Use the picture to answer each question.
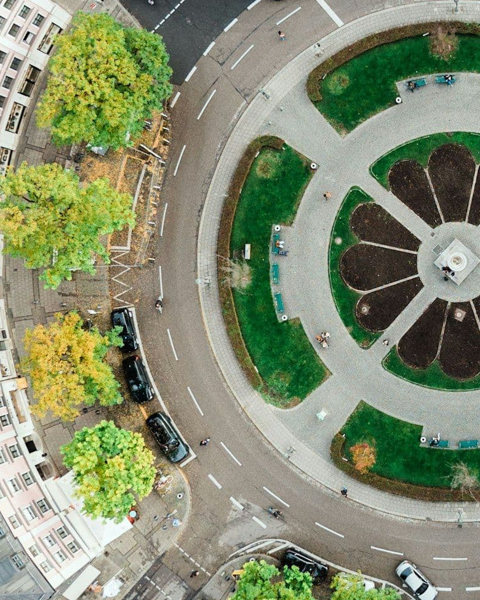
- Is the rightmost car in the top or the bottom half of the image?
bottom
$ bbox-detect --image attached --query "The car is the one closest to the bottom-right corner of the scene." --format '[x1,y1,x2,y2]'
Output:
[392,556,442,600]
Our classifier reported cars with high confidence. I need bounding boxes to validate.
[147,407,192,466]
[122,353,157,405]
[392,556,442,600]
[111,306,142,353]
[278,546,336,586]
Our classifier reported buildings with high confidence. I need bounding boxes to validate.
[0,0,74,189]
[0,377,132,600]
